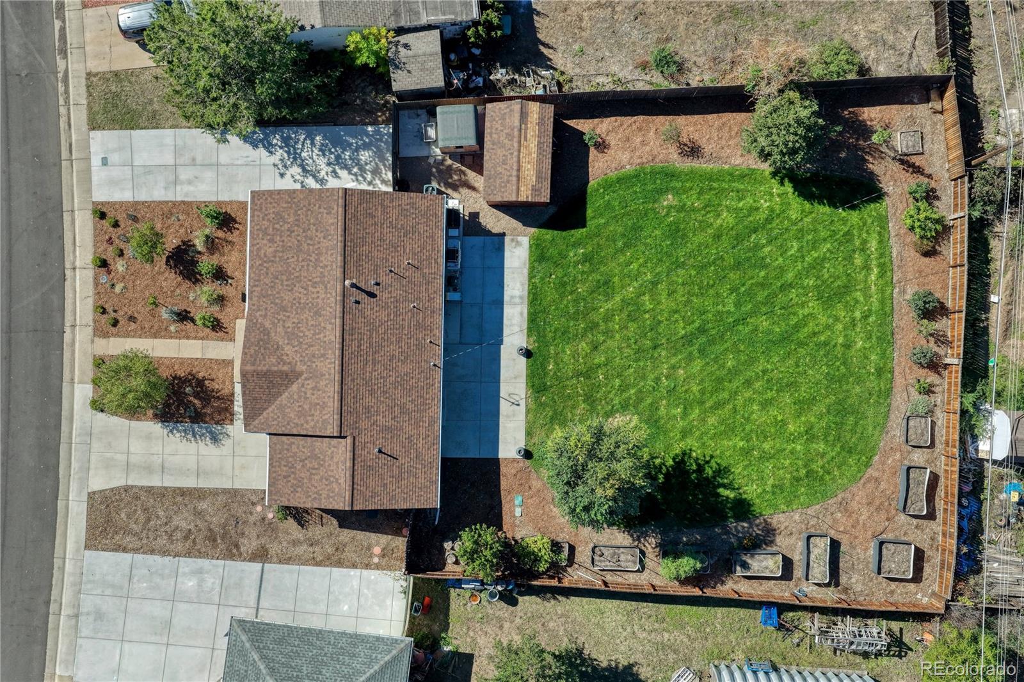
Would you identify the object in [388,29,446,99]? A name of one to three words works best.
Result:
shed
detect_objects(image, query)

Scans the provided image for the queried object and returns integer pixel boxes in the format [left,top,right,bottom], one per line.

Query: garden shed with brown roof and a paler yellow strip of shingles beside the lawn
[483,100,554,206]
